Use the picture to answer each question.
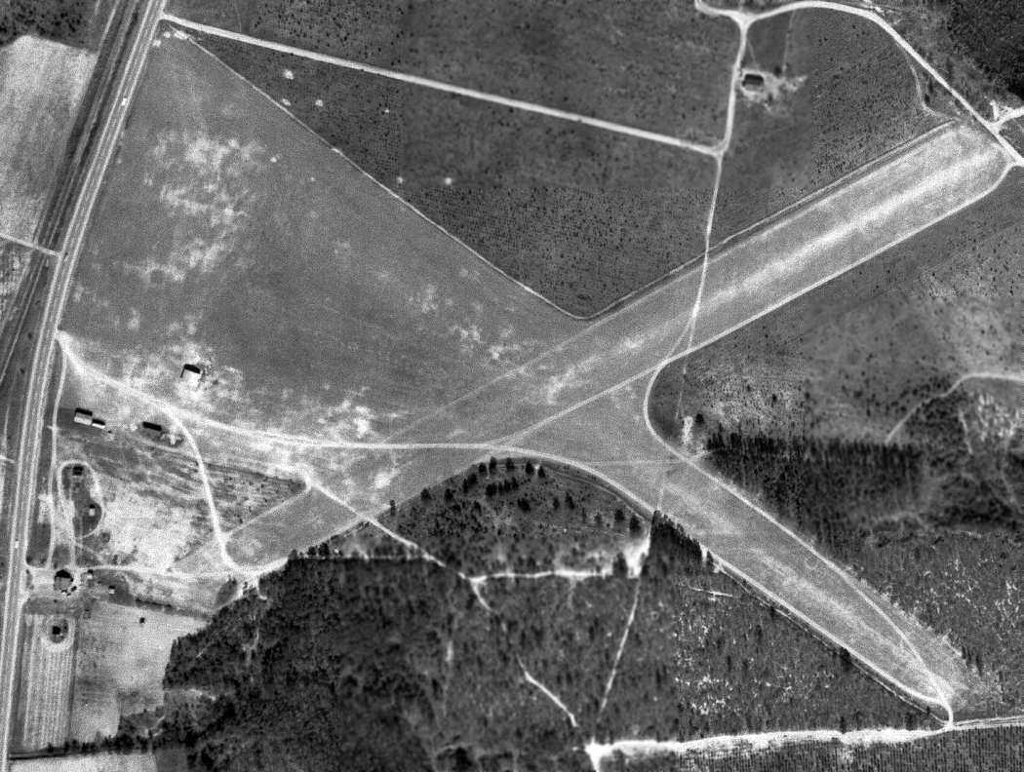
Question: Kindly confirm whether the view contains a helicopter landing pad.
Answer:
No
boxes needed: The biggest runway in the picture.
[226,127,1012,568]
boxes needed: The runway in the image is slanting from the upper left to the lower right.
[553,429,951,698]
